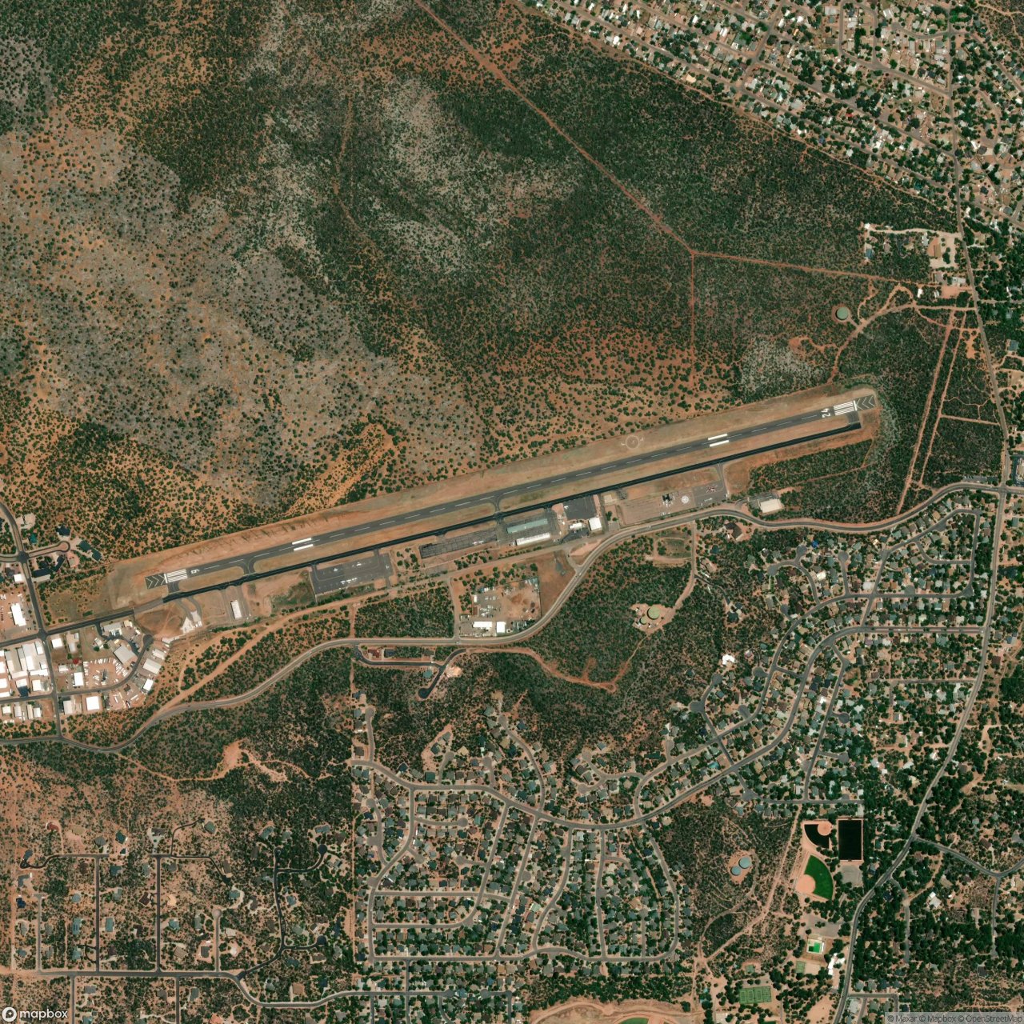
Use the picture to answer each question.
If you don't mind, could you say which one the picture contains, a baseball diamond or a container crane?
baseball diamond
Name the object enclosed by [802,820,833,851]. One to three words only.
baseball field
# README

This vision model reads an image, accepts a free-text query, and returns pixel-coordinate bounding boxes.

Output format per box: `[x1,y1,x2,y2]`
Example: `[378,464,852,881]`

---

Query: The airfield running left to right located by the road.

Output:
[145,394,876,633]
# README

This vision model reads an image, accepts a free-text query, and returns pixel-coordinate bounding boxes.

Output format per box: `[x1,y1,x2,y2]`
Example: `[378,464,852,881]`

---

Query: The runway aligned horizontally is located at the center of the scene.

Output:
[147,396,873,585]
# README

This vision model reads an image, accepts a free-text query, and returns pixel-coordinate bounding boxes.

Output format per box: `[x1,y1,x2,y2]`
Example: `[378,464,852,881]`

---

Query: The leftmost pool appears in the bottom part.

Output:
[807,939,823,954]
